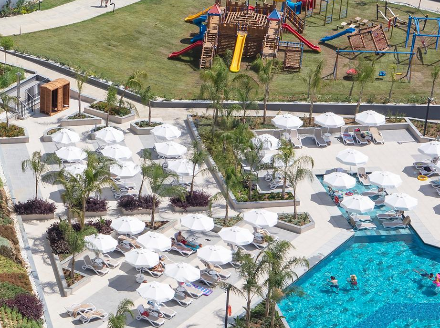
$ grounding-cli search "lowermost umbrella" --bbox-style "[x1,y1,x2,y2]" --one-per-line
[135,282,173,303]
